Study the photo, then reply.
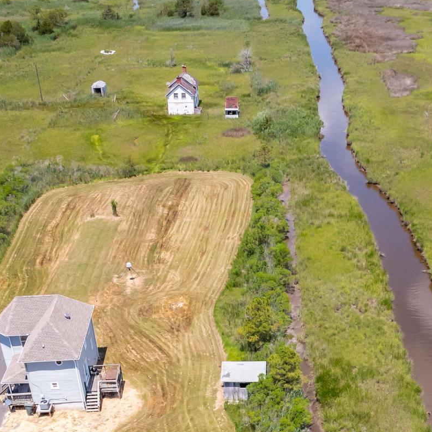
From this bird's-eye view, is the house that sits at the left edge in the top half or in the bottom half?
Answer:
bottom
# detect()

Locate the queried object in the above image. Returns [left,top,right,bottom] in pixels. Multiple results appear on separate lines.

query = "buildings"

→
[92,79,108,97]
[165,54,202,114]
[0,293,123,411]
[224,98,240,118]
[221,358,266,401]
